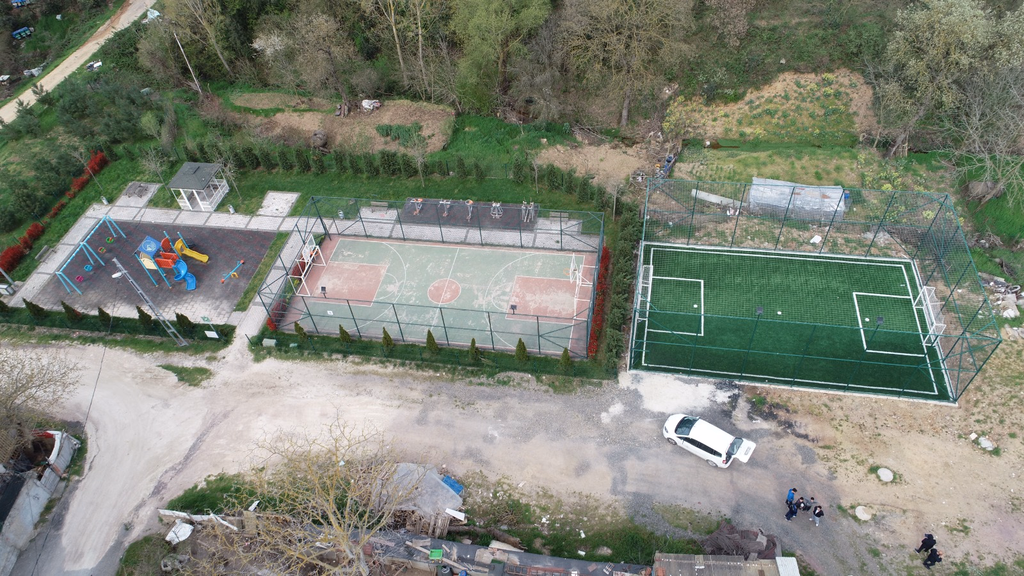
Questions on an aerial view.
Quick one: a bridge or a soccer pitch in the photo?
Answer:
soccer pitch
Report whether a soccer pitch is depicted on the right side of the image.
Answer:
Yes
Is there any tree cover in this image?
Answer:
Yes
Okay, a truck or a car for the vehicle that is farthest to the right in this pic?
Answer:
car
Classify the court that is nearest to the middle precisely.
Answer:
basketball court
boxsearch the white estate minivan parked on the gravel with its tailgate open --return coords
[661,414,758,469]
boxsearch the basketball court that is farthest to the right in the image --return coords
[274,230,602,362]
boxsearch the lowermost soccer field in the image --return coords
[628,239,959,405]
